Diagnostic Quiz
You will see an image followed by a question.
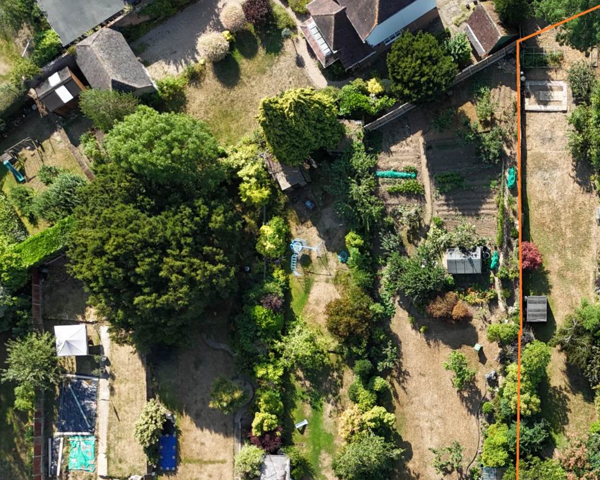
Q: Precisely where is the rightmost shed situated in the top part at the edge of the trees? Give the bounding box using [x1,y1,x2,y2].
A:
[465,2,517,62]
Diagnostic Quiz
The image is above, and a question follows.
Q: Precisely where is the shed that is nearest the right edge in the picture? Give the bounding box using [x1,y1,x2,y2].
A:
[528,297,547,323]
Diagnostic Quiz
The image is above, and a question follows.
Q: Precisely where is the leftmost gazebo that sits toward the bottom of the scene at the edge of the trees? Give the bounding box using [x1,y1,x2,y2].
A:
[54,325,101,357]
